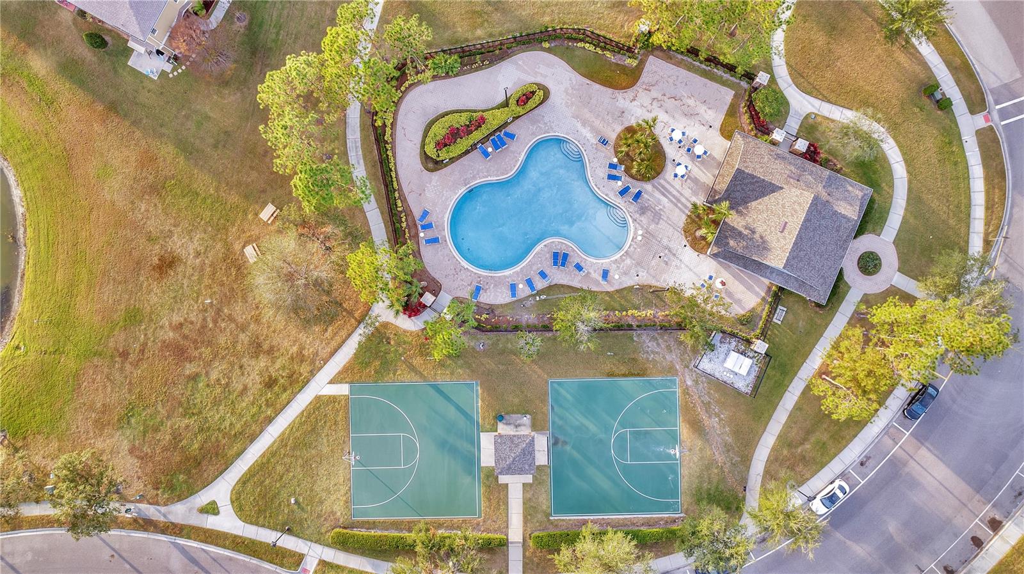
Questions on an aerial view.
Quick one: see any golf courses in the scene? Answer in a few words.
No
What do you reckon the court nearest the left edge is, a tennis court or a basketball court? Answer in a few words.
basketball court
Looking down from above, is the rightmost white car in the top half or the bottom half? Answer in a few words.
bottom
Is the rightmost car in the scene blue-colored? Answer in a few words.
Yes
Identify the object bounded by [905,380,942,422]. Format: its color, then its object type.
blue car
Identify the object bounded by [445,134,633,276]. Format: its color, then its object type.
blue swimming pool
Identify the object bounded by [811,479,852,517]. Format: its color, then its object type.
white car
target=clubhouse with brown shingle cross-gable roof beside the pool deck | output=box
[698,130,873,304]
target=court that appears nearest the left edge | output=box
[349,382,482,520]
